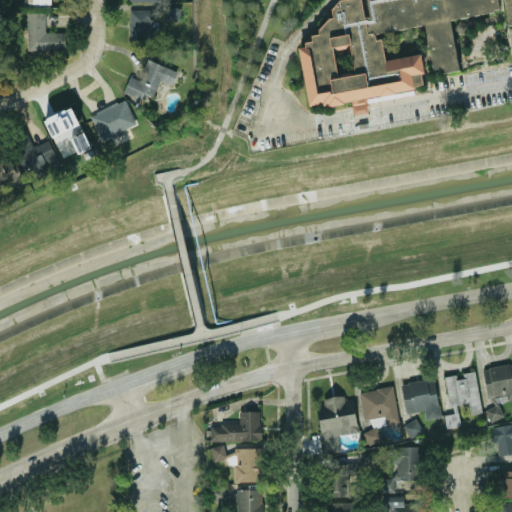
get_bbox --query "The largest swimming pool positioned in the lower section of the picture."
[340,430,362,452]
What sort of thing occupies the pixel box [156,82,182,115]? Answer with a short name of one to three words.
swimming pool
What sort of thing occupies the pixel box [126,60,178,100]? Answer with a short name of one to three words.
house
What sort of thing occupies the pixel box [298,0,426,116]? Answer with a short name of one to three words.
building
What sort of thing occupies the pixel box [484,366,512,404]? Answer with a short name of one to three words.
house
